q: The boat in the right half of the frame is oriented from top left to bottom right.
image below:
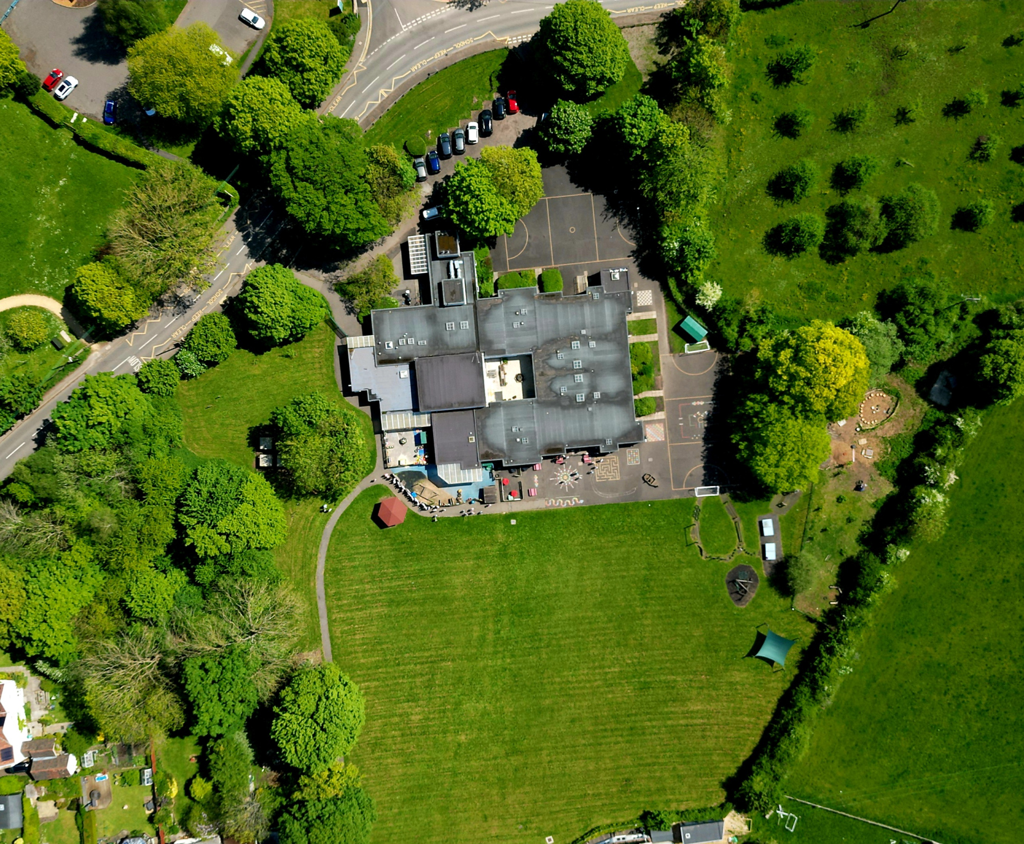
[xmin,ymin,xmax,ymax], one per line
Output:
[643,473,659,487]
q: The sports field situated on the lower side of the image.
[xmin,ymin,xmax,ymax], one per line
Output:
[271,479,820,844]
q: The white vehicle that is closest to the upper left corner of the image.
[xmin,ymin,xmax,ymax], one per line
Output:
[54,75,78,100]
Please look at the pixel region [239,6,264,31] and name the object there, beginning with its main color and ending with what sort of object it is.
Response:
white car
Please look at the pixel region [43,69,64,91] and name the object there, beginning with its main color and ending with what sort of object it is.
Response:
red car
